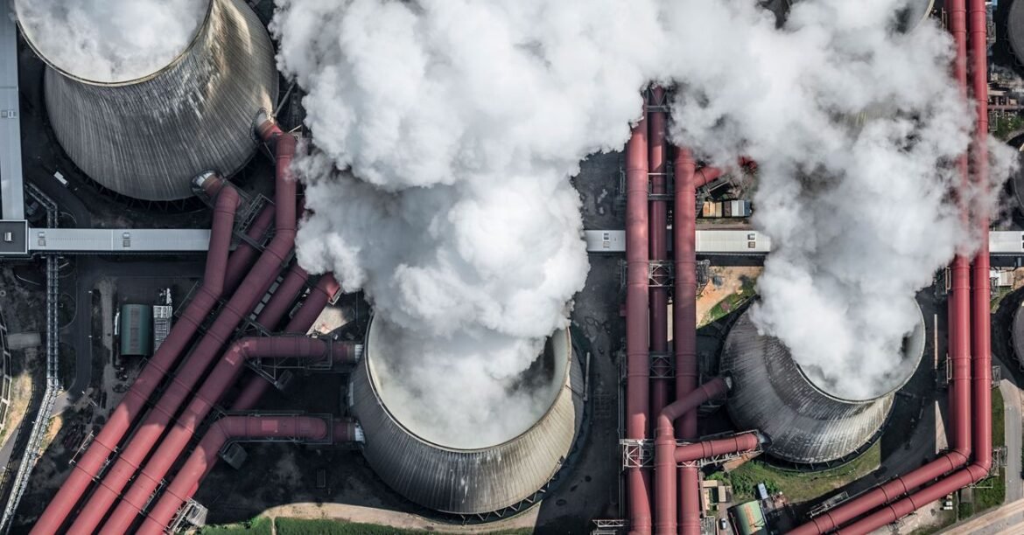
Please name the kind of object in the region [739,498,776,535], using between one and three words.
hangar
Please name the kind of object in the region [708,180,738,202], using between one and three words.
house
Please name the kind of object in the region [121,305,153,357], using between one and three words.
hangar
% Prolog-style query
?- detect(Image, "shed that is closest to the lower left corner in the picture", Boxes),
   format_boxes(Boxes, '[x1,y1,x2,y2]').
[7,331,43,349]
